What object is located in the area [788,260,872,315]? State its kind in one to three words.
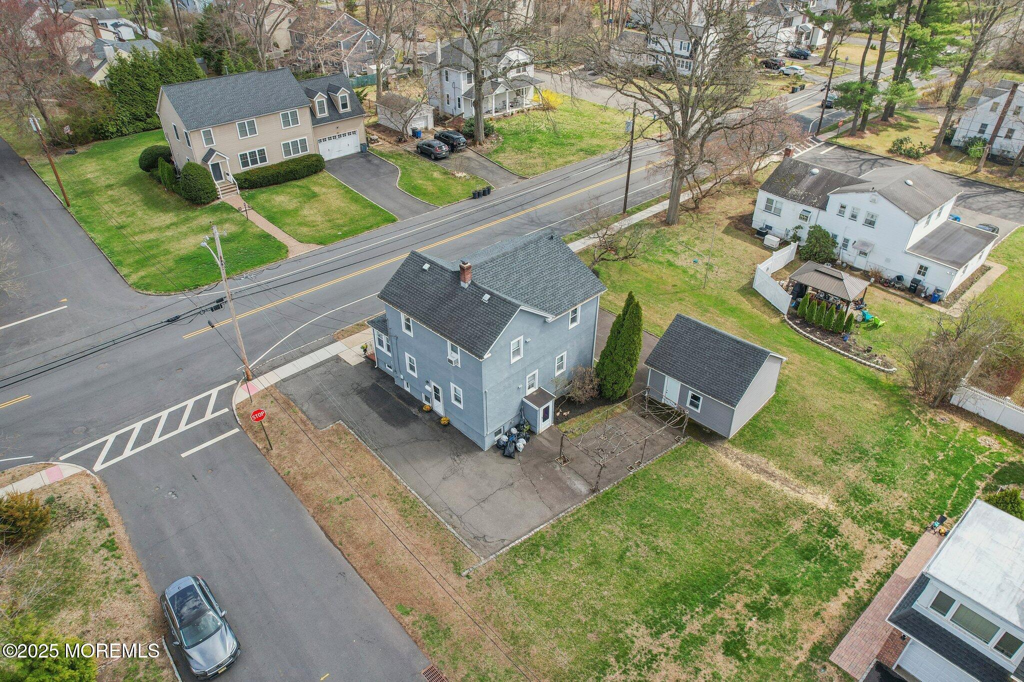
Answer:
gazebo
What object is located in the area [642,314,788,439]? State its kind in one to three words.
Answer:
building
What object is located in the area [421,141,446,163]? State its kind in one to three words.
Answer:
car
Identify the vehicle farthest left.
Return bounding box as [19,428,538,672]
[159,577,245,682]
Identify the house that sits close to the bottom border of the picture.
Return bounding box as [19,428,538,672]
[877,496,1024,682]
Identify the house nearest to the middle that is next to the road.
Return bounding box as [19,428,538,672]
[359,234,609,451]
